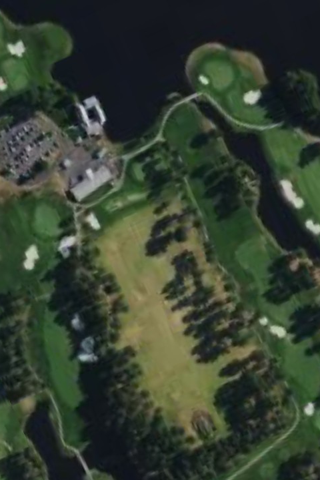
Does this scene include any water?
Yes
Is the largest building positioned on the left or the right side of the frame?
left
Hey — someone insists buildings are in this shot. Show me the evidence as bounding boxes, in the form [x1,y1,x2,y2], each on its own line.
[66,161,114,200]
[76,95,104,134]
